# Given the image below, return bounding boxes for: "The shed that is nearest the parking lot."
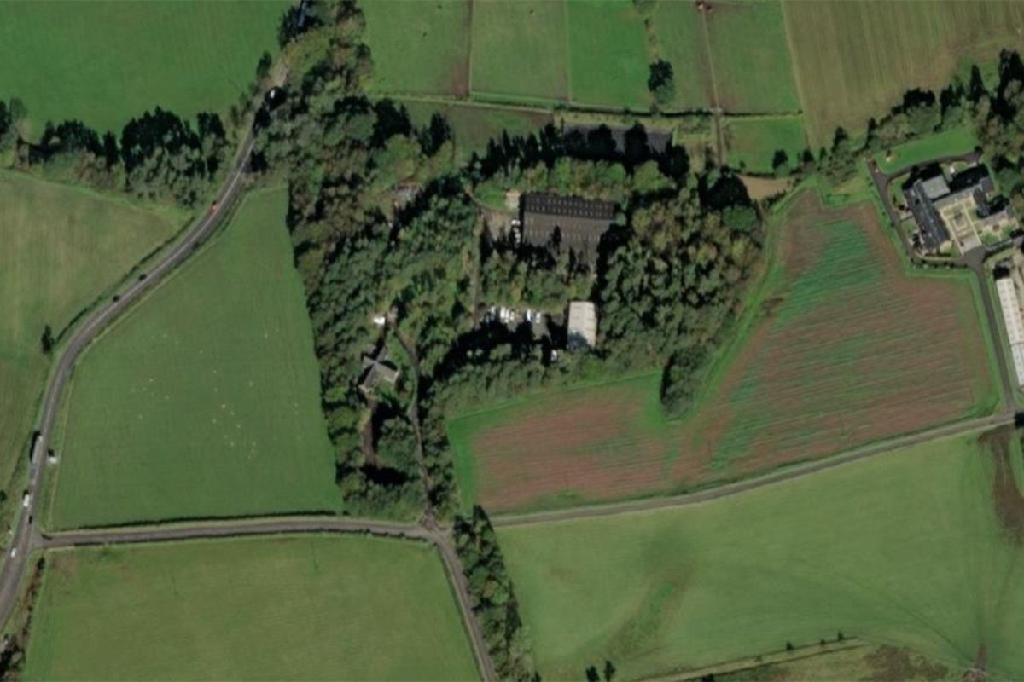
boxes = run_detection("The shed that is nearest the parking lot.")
[569,302,595,349]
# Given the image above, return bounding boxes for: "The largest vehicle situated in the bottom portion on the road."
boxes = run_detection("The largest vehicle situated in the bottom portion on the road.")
[29,438,42,466]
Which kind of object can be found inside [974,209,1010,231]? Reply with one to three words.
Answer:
building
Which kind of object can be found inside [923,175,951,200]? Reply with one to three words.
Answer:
shed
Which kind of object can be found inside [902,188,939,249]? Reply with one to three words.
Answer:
building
